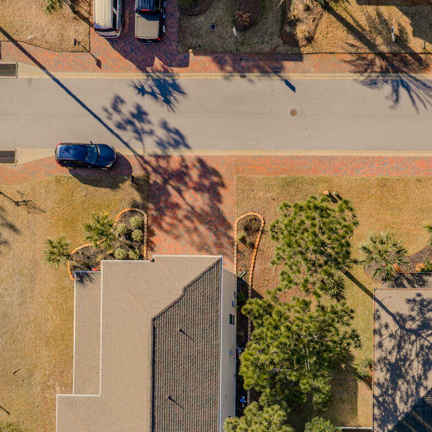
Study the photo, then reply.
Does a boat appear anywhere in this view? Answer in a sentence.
No, the photo shows no boat.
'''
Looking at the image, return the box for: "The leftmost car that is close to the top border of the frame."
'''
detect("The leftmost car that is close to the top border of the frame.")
[93,0,124,38]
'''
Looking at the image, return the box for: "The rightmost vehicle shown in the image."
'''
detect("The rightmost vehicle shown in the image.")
[135,0,165,42]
